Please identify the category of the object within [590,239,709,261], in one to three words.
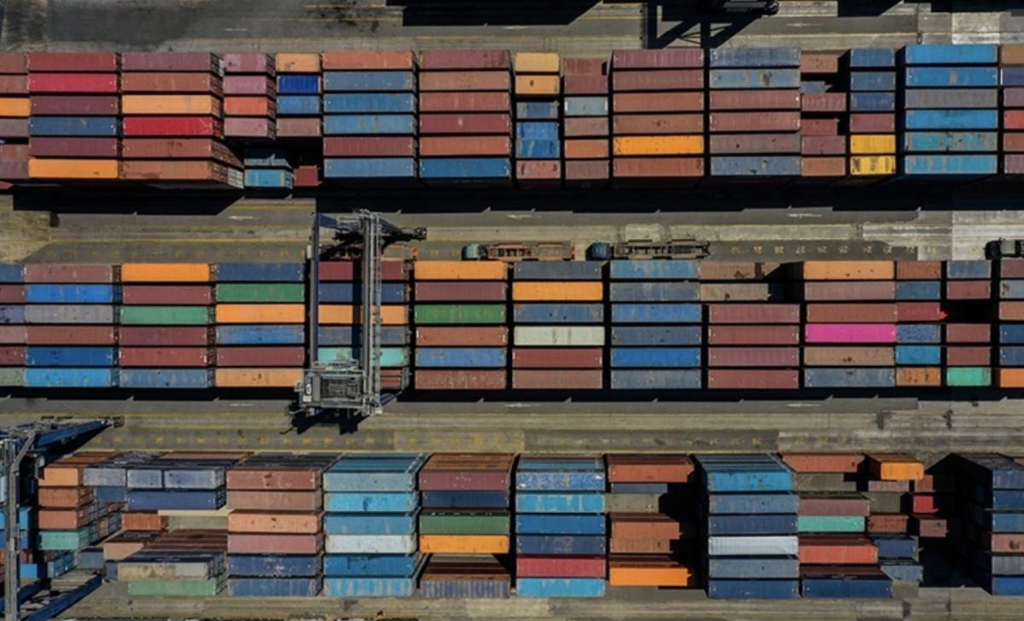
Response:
truck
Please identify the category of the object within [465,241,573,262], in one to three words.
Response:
truck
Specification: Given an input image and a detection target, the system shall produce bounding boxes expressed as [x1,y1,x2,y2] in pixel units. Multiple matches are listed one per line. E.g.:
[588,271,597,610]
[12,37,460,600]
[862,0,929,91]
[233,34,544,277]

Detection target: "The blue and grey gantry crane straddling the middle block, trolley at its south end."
[281,206,429,421]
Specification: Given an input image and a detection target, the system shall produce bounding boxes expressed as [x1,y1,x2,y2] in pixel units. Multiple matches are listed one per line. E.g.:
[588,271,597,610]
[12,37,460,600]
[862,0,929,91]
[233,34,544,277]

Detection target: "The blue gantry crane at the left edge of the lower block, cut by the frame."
[0,415,130,621]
